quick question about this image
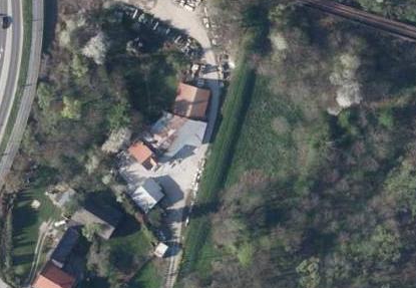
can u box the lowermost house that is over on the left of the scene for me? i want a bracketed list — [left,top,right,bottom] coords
[32,260,77,288]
